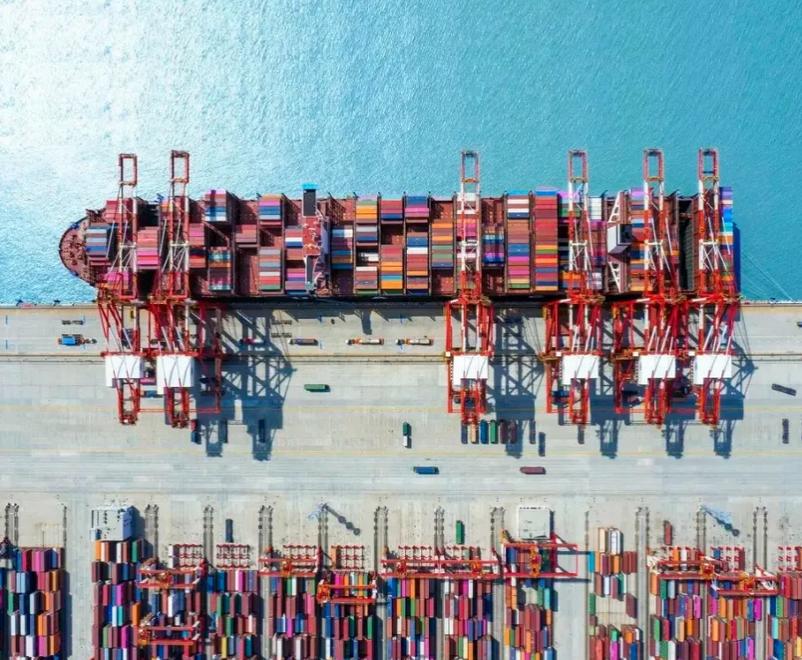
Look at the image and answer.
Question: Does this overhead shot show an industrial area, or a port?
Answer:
port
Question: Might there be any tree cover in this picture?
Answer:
No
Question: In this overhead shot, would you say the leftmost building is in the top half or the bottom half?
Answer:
bottom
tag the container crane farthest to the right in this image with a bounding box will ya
[704,556,779,596]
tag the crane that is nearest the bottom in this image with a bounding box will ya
[139,604,205,645]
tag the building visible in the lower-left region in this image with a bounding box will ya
[91,503,132,539]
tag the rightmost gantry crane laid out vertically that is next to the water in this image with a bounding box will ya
[657,151,743,428]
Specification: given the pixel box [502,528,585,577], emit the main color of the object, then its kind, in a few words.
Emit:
red container crane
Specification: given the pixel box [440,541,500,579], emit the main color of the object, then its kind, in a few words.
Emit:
red container crane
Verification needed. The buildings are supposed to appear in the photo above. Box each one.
[91,503,132,539]
[516,504,551,538]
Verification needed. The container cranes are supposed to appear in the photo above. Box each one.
[438,151,492,428]
[598,151,685,428]
[381,541,441,579]
[152,151,236,428]
[657,151,743,428]
[440,541,500,579]
[96,153,180,430]
[647,541,718,579]
[531,151,603,428]
[704,556,779,596]
[320,564,377,604]
[139,550,205,588]
[260,539,320,577]
[502,528,585,577]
